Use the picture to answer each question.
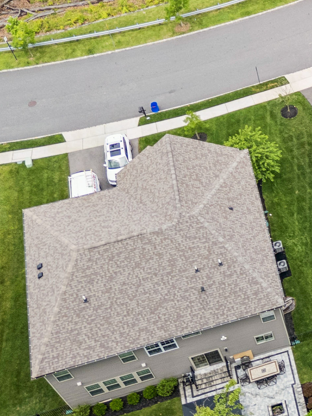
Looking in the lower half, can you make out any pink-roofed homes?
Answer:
No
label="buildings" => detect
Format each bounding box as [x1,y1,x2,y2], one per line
[23,134,291,409]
